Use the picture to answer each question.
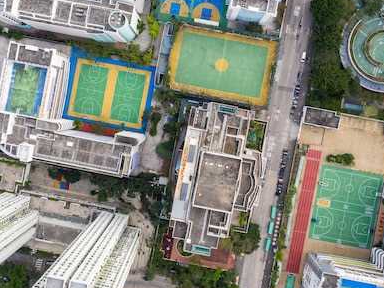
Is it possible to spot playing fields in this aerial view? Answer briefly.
Yes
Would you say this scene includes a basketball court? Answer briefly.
Yes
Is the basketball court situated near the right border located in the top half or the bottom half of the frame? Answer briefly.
bottom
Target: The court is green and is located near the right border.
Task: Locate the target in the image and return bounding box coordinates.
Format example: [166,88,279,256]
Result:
[306,166,384,251]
